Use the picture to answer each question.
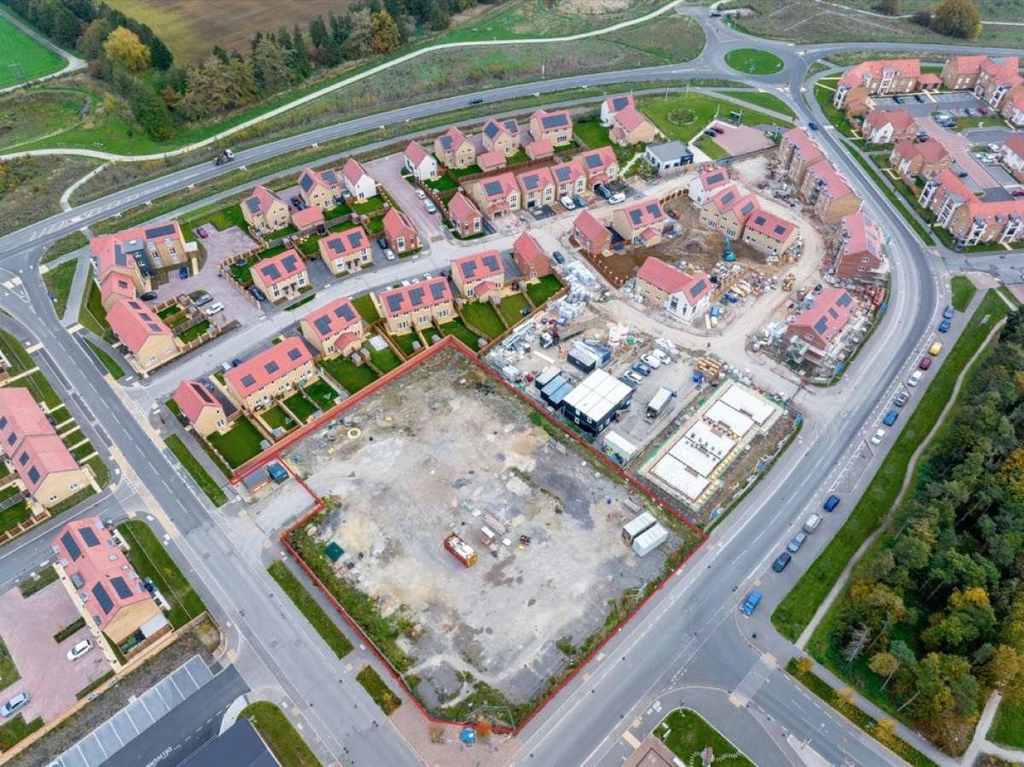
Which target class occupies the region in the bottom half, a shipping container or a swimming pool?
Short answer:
shipping container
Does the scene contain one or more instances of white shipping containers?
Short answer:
Yes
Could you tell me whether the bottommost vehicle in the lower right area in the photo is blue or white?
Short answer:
blue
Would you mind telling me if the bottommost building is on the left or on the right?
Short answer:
left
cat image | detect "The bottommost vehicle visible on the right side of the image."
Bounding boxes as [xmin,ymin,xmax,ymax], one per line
[741,587,763,616]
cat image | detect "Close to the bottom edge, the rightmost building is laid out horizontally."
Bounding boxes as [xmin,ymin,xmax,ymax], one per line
[175,716,287,767]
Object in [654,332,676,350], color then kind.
white vehicle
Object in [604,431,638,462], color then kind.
white shipping container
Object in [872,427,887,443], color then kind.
white car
